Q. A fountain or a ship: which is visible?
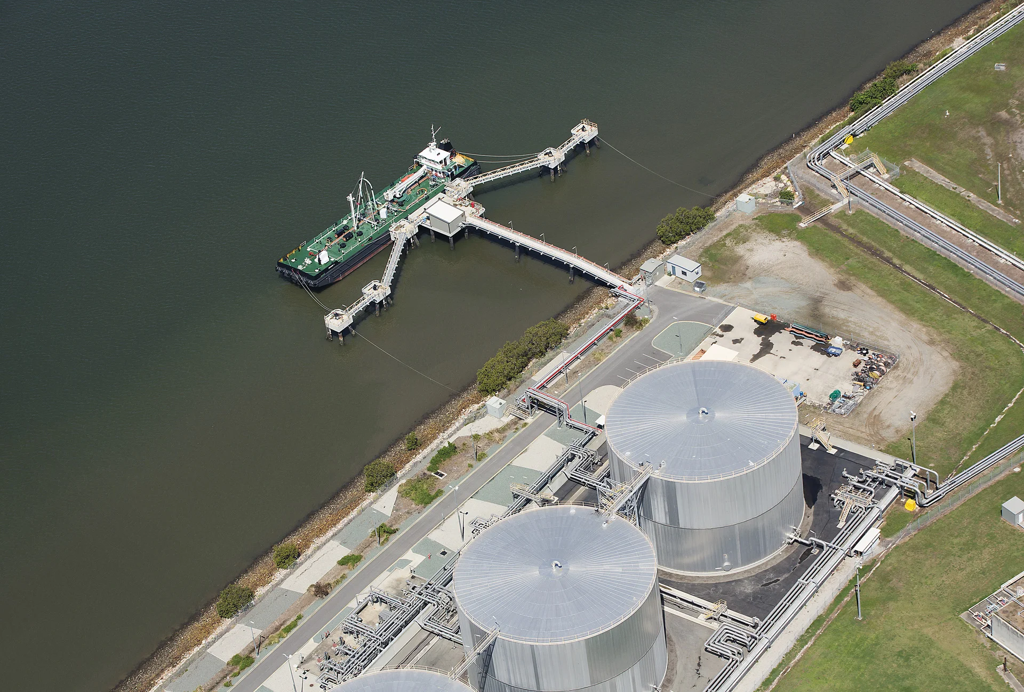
ship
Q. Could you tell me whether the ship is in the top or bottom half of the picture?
top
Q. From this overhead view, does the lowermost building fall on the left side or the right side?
right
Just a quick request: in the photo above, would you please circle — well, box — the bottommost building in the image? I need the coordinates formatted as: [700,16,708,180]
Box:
[992,587,1024,657]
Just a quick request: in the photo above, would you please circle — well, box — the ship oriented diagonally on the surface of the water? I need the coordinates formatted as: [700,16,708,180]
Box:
[281,116,481,285]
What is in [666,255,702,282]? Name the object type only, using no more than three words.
building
